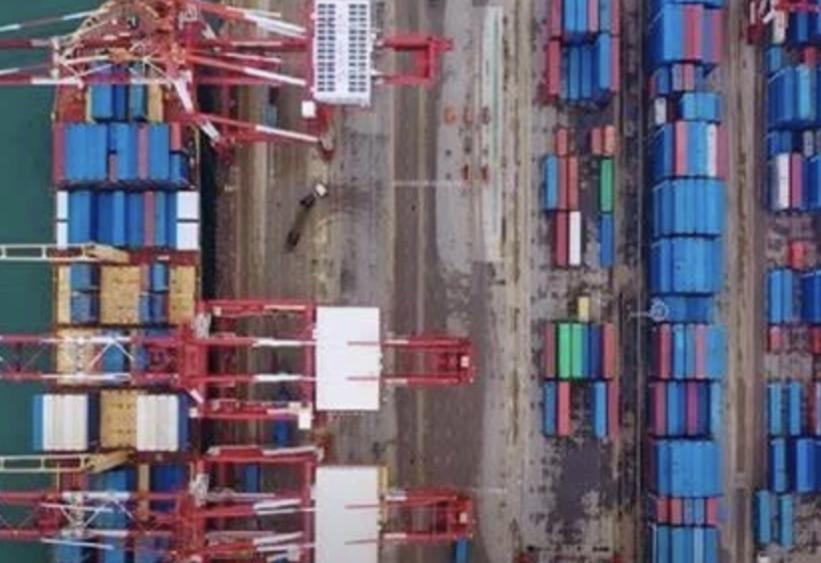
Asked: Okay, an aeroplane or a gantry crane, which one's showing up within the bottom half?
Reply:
gantry crane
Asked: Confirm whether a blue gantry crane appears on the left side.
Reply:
No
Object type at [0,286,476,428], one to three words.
container crane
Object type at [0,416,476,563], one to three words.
container crane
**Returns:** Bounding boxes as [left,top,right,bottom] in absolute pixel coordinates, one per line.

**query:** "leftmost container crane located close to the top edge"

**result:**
[0,0,459,157]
